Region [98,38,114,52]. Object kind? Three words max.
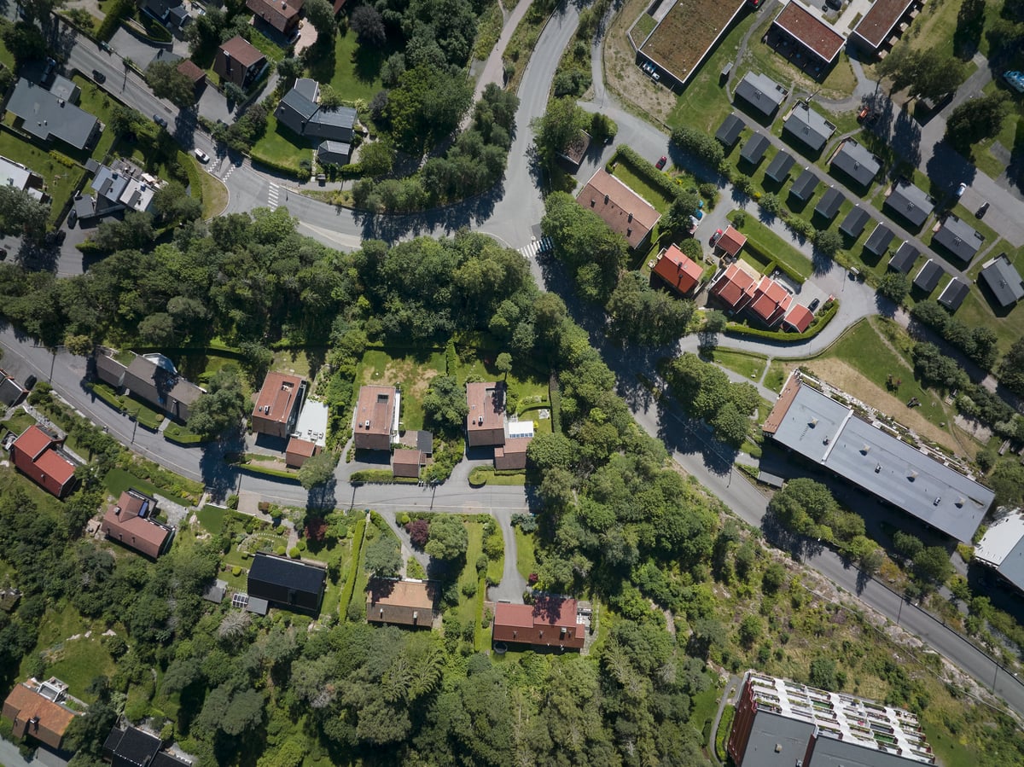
car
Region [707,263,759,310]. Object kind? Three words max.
house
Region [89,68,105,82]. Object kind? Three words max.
car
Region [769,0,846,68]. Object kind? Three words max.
building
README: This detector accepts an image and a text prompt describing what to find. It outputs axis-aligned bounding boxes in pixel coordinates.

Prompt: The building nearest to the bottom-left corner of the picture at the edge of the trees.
[1,673,81,751]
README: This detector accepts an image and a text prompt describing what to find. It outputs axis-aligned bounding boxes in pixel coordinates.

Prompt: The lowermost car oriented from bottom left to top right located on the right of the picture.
[808,297,822,312]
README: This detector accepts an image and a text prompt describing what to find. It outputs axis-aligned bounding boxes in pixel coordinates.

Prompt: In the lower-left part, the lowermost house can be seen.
[104,719,195,767]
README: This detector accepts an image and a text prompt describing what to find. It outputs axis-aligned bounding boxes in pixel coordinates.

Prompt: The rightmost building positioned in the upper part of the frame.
[976,256,1024,306]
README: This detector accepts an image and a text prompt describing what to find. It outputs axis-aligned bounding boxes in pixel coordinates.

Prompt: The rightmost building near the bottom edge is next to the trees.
[722,669,937,767]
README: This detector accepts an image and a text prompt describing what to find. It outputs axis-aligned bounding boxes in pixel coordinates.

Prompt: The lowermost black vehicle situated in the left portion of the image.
[22,374,36,390]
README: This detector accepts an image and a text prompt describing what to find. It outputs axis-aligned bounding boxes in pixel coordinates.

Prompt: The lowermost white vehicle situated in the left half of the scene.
[193,148,209,161]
